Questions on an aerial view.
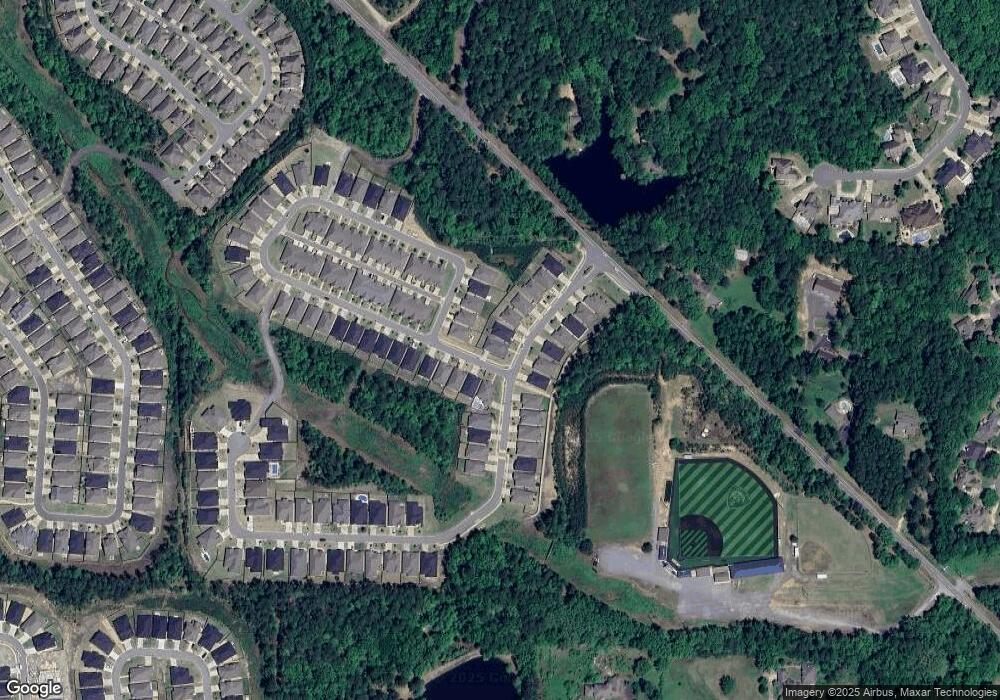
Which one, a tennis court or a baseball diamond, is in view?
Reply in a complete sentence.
The image shows a baseball diamond.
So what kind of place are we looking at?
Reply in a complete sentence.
The area seen from above is a residential area.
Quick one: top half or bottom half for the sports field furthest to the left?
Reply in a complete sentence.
You can find the sports field furthest to the left in the bottom half.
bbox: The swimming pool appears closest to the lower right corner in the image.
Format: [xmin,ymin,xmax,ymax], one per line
[839,398,854,413]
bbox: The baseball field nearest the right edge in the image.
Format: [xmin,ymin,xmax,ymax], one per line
[798,503,872,573]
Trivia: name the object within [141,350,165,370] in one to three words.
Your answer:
house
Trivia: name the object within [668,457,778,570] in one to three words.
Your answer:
baseball field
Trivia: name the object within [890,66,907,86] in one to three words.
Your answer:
swimming pool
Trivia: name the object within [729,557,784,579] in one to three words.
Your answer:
shed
